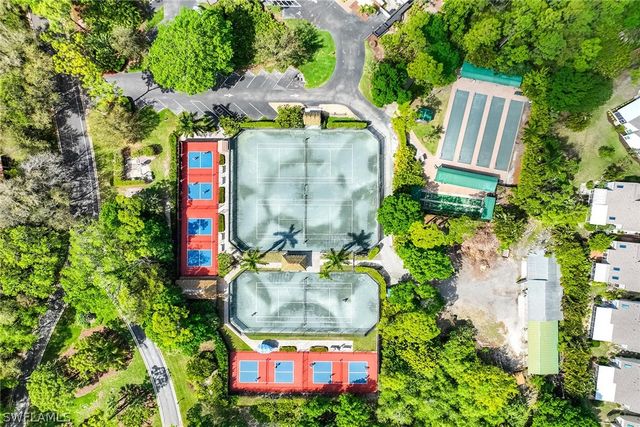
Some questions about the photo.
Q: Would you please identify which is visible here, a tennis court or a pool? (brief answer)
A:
tennis court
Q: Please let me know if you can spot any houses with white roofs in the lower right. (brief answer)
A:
Yes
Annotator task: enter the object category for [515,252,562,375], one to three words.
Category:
barn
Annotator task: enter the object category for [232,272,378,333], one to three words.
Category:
tennis court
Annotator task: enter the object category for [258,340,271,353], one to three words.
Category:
umbrella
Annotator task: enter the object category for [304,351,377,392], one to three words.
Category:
sports court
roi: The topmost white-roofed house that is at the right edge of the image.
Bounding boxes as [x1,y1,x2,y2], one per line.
[607,94,640,154]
